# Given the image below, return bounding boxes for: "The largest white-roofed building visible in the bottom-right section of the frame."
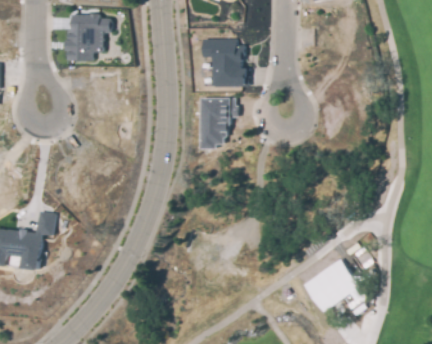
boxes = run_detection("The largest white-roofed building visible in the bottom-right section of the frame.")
[304,260,368,313]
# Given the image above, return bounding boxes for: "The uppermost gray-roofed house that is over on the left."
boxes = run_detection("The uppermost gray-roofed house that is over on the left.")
[63,14,110,60]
